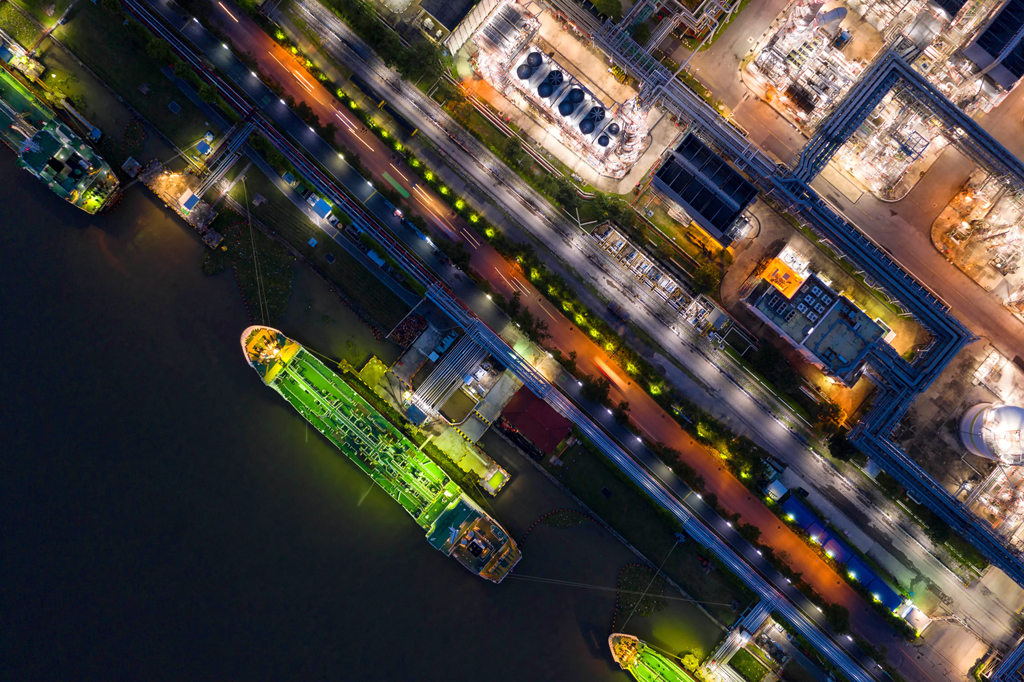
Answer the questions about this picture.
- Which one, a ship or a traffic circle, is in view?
ship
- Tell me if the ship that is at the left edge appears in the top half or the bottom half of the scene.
top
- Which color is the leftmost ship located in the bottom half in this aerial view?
green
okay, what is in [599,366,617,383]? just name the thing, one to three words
vehicle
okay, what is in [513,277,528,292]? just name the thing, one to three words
car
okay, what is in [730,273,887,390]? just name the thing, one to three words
building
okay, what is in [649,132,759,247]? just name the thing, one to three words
cooling tower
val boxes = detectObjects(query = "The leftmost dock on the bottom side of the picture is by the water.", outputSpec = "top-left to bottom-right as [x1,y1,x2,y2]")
[359,323,530,496]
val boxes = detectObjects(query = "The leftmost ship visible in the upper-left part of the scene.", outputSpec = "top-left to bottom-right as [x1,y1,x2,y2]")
[0,67,130,215]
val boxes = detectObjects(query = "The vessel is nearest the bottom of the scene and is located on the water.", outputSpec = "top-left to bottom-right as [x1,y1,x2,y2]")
[606,631,703,682]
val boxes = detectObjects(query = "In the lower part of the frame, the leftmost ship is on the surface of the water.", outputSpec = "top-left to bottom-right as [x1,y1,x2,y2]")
[238,323,523,583]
